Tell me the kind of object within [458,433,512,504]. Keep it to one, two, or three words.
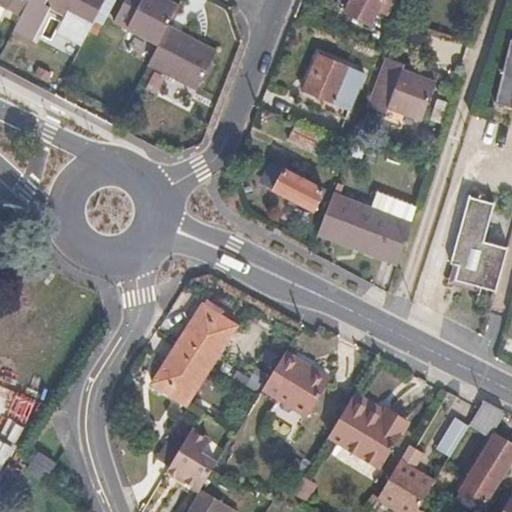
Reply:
house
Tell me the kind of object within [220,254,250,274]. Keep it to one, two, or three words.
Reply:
vehicle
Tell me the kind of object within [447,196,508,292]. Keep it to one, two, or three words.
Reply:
building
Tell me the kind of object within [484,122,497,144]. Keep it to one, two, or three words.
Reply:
vehicle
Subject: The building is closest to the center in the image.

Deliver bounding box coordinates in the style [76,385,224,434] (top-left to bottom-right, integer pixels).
[272,168,328,214]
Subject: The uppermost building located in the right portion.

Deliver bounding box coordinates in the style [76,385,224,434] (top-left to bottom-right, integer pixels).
[344,0,394,30]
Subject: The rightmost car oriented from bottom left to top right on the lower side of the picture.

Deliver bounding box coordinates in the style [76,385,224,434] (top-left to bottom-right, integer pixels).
[165,310,186,328]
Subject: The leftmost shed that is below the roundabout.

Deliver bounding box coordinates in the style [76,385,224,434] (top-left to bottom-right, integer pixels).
[28,452,56,474]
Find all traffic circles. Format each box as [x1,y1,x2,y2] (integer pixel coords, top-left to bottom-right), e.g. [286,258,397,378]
[36,140,184,284]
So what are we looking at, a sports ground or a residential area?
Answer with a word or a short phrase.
residential area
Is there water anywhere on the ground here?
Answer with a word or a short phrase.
No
